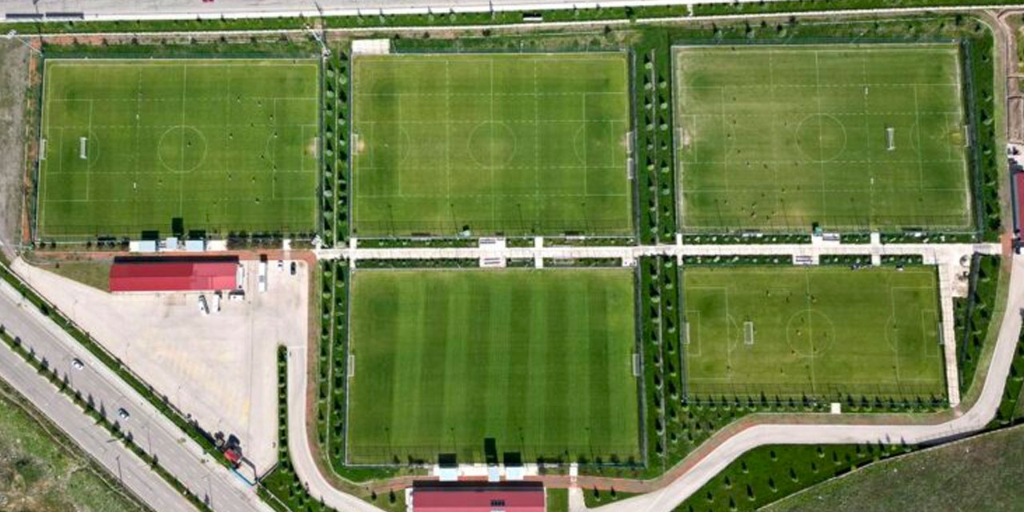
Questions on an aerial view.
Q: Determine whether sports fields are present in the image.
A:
Yes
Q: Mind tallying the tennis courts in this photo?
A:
0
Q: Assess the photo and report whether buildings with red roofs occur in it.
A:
Yes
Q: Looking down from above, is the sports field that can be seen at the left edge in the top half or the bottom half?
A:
top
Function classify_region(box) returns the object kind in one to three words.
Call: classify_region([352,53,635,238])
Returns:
sports field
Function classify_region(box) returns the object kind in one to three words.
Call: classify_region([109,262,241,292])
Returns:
building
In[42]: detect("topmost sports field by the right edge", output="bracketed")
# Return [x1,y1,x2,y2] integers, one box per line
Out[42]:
[674,44,975,234]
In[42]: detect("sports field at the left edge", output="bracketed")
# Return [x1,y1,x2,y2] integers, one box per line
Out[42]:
[37,60,320,241]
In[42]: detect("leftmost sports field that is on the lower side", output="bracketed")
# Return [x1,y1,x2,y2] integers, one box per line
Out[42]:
[346,268,642,466]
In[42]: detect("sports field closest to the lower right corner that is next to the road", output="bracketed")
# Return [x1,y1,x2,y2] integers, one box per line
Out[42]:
[684,265,948,402]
